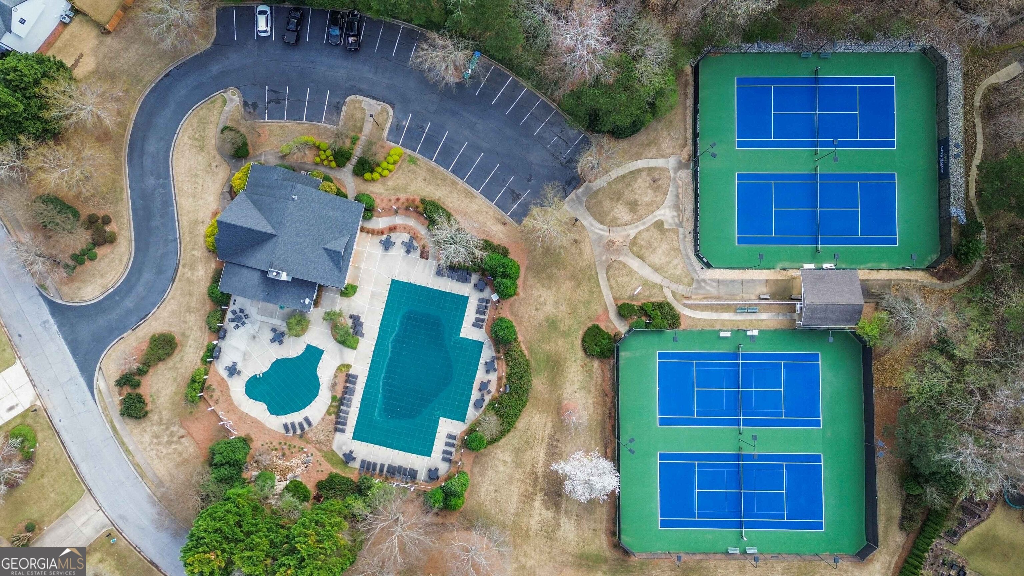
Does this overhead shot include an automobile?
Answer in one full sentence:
Yes, the image includes an automobile.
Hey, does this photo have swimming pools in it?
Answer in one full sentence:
Yes, the image includes a swimming pool.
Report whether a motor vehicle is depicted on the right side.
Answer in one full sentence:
No, I see no motor vehicle on the right side.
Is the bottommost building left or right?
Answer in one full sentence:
You can find the bottommost building on the right side of the picture.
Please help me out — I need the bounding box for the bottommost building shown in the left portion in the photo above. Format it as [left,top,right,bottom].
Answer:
[215,162,366,313]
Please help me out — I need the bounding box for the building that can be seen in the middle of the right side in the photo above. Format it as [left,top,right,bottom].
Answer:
[795,268,864,329]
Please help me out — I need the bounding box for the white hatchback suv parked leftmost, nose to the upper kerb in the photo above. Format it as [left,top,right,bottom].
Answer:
[255,5,273,37]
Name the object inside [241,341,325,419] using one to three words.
swimming pool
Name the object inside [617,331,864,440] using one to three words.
tennis court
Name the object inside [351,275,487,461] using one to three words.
swimming pool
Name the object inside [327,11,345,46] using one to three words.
car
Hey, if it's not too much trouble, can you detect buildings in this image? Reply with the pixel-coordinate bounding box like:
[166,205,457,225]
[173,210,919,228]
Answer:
[215,162,366,313]
[0,0,82,56]
[795,268,864,329]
